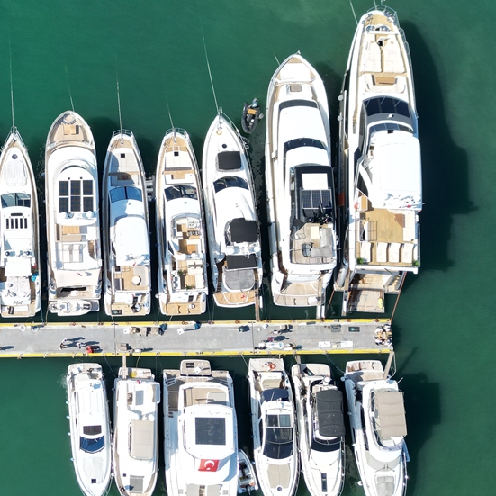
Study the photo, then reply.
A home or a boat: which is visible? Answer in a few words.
boat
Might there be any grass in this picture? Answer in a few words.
No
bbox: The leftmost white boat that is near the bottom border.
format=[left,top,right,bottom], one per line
[64,352,115,496]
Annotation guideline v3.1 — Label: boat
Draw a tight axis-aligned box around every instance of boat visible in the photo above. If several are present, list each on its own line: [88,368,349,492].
[328,0,437,320]
[260,45,352,319]
[241,100,262,135]
[241,352,300,496]
[291,358,347,496]
[101,83,155,322]
[41,71,104,322]
[239,449,254,494]
[64,352,115,496]
[157,355,241,496]
[153,102,210,321]
[0,115,44,318]
[327,355,412,496]
[201,41,266,322]
[110,356,164,496]
[49,300,92,314]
